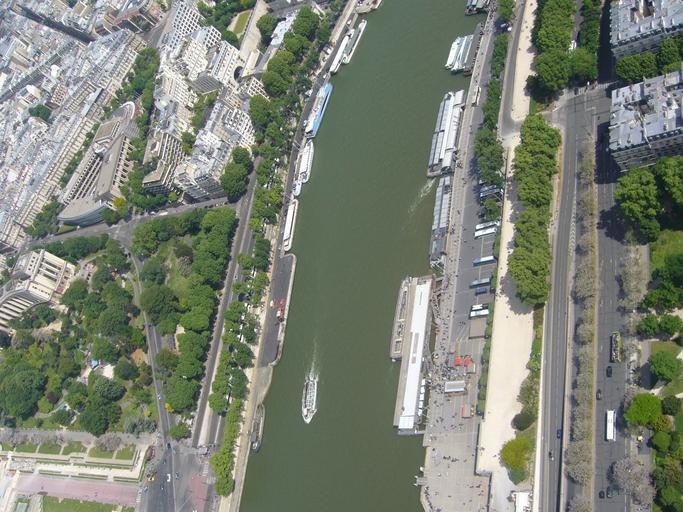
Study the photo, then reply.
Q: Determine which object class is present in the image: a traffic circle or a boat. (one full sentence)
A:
The image shows a boat.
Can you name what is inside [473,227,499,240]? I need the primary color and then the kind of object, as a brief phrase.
white vehicle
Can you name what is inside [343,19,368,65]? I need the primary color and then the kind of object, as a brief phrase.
white ship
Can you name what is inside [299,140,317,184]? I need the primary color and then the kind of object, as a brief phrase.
white boat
